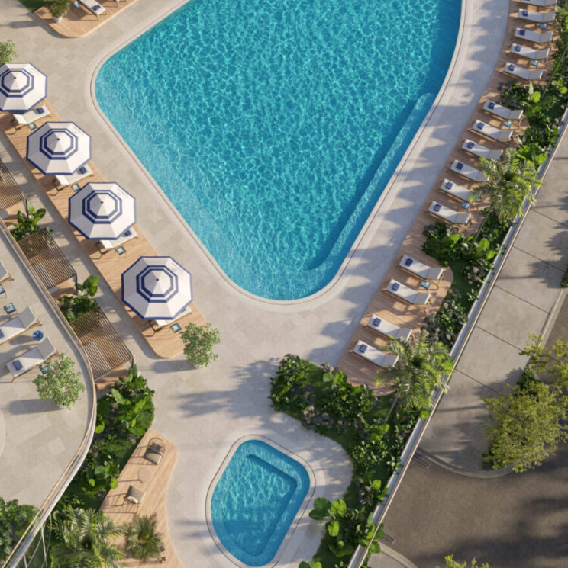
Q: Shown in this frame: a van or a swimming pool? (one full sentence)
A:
Looking from above, you can make out a swimming pool.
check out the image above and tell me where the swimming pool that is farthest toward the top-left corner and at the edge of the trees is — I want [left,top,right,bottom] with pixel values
[95,0,462,300]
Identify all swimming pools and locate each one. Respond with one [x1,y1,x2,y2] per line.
[95,0,462,300]
[211,441,310,567]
